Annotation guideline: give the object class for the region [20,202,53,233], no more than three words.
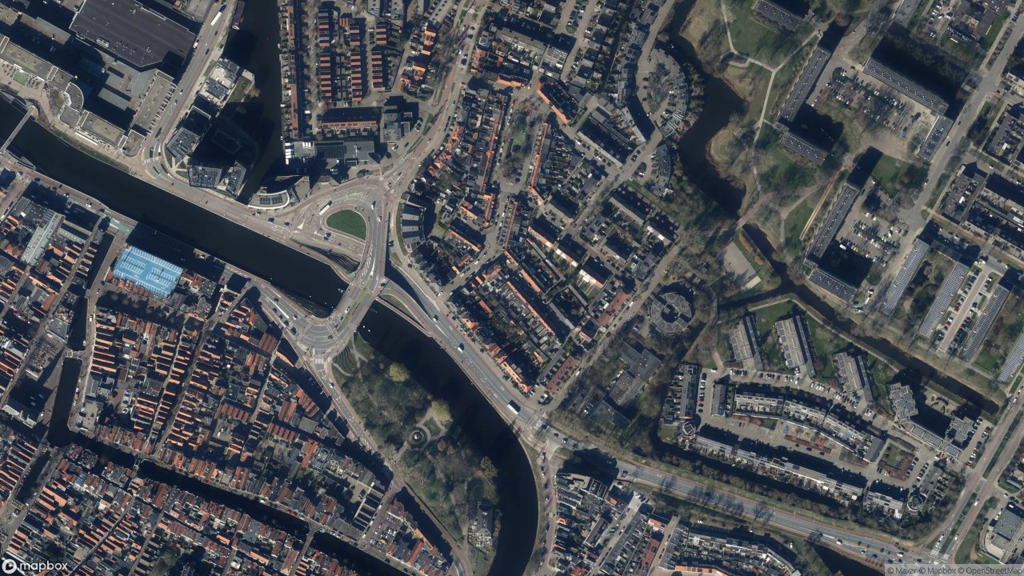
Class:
building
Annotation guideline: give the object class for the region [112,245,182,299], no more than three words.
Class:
house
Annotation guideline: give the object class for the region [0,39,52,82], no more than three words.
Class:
building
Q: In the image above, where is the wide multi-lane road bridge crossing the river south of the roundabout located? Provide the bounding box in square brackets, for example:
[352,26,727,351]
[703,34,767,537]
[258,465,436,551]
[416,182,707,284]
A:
[331,266,381,329]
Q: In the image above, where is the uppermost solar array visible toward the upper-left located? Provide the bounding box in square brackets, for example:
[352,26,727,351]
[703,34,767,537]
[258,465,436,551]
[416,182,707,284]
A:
[202,62,230,102]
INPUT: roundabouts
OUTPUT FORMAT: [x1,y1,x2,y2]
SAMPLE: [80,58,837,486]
[323,208,367,241]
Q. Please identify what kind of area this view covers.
residential area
